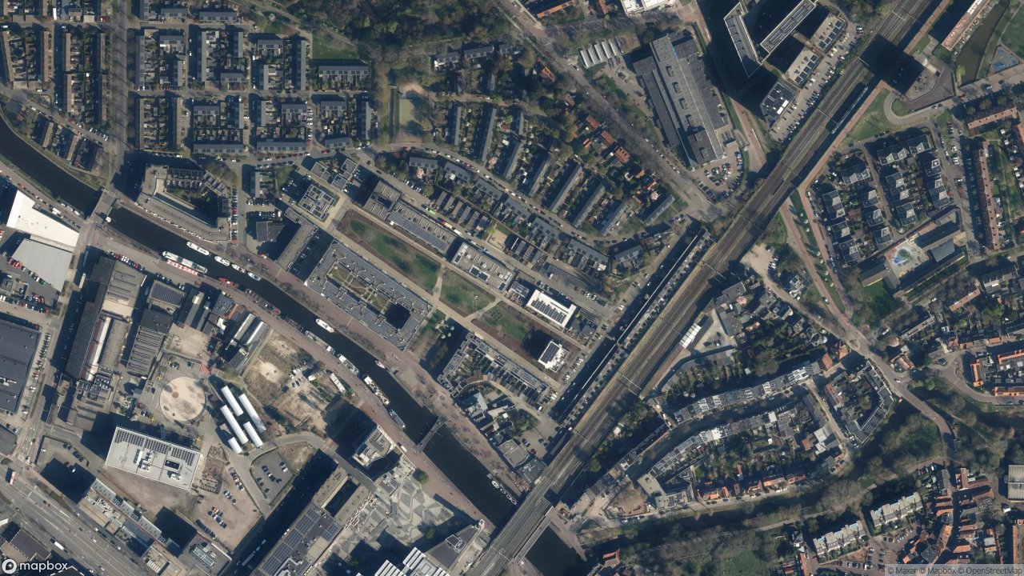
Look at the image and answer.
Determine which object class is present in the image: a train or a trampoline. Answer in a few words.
train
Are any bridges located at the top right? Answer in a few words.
No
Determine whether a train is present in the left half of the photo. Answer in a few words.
No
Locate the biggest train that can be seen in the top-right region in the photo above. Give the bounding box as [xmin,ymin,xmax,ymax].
[833,87,867,132]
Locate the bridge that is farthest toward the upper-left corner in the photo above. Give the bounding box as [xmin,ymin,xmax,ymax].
[88,187,118,228]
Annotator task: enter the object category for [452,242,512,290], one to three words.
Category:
building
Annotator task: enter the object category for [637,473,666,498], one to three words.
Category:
building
